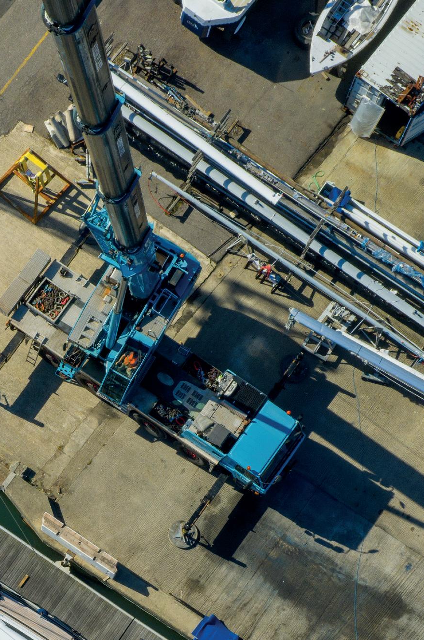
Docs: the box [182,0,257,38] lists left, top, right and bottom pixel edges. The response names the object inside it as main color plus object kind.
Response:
white boat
